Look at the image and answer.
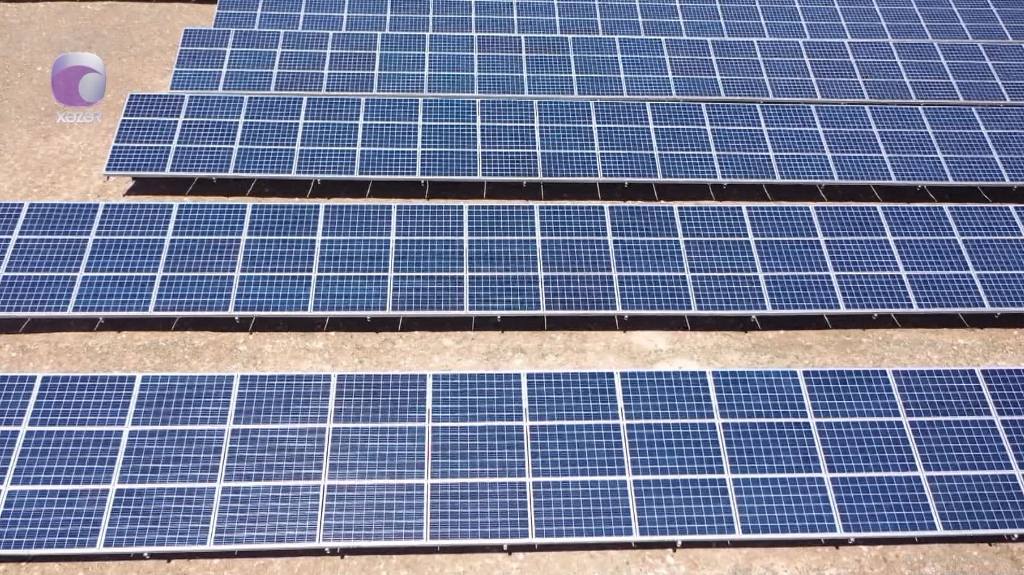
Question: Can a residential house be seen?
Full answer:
No, no residential house is visible in the view.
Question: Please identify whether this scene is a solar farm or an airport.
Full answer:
The area seen from above is a solar farm.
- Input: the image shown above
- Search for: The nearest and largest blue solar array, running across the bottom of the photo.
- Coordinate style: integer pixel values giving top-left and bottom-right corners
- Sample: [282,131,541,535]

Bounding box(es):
[0,368,1024,554]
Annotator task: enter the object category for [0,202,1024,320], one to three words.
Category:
solar array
